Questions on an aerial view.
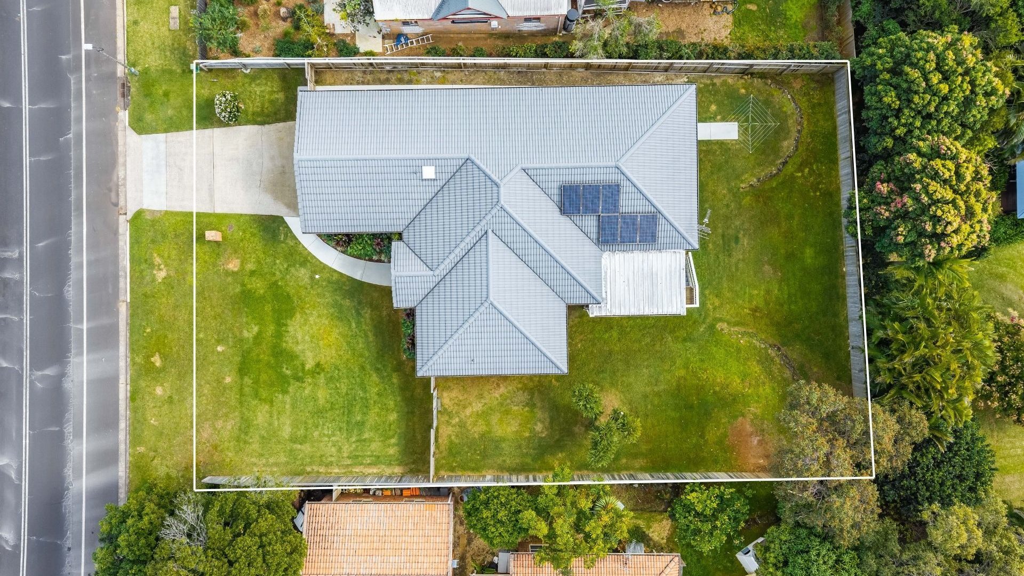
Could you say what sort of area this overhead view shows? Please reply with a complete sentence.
This image shows a residential area.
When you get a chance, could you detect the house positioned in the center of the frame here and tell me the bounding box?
[289,81,701,379]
